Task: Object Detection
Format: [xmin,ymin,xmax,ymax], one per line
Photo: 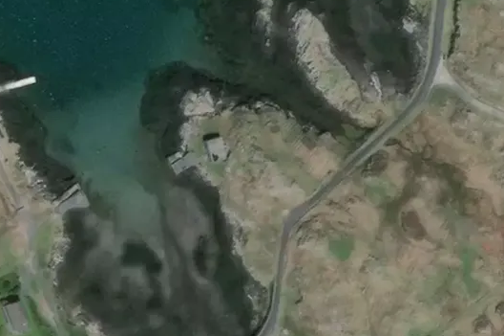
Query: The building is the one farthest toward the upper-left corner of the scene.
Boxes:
[206,139,231,165]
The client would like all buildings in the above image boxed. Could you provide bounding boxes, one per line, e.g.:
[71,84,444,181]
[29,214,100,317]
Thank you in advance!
[206,139,231,165]
[1,302,28,335]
